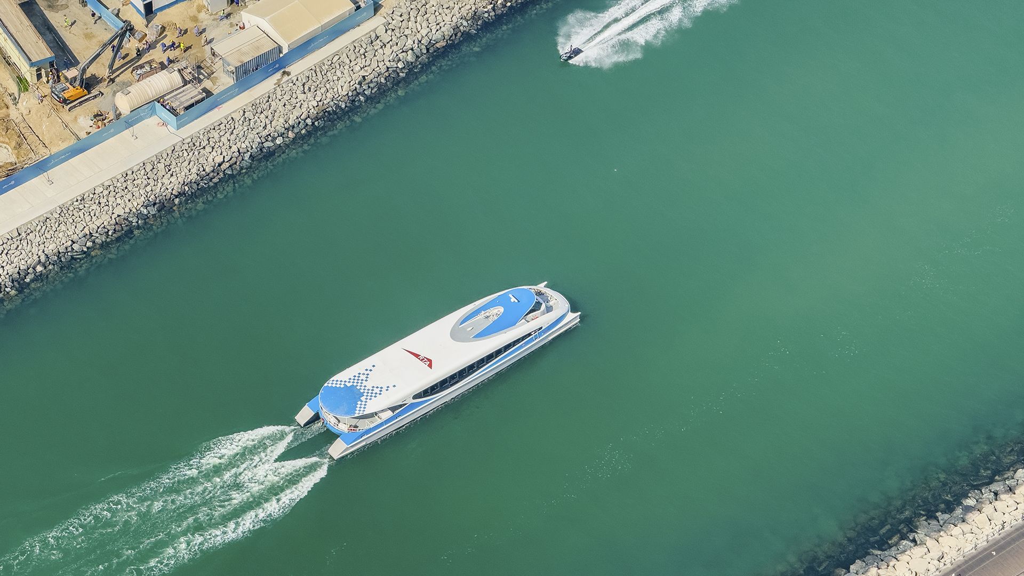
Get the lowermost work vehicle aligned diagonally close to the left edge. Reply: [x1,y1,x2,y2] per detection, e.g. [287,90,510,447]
[51,16,131,111]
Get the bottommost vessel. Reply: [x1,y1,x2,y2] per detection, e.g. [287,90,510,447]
[295,280,582,467]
